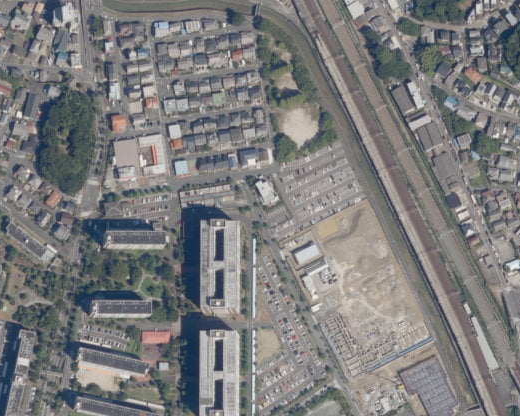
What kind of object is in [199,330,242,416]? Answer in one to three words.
building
